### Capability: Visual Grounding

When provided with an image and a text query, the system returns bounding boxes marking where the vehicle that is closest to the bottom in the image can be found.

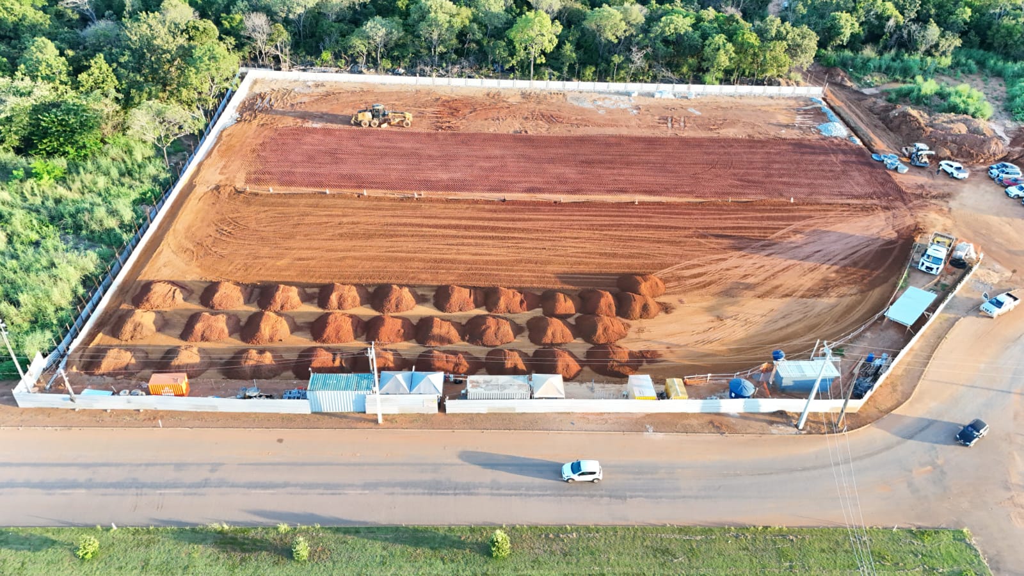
[561,463,602,485]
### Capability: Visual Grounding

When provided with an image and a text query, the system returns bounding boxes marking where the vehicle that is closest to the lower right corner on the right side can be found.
[956,420,993,449]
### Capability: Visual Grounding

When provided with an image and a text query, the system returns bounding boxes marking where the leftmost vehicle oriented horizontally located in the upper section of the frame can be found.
[348,102,414,129]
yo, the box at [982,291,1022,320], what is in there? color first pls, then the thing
white truck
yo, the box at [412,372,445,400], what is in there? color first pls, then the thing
white tent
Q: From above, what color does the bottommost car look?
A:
white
